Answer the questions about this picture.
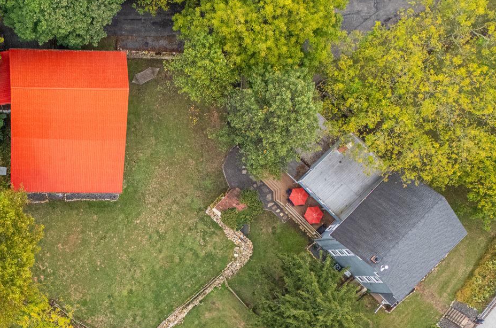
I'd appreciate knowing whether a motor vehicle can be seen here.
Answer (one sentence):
No, there is no motor vehicle in the image.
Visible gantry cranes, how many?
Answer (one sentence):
No gantry cranes are visible.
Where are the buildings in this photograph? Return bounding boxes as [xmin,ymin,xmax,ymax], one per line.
[312,163,468,304]
[10,48,129,196]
